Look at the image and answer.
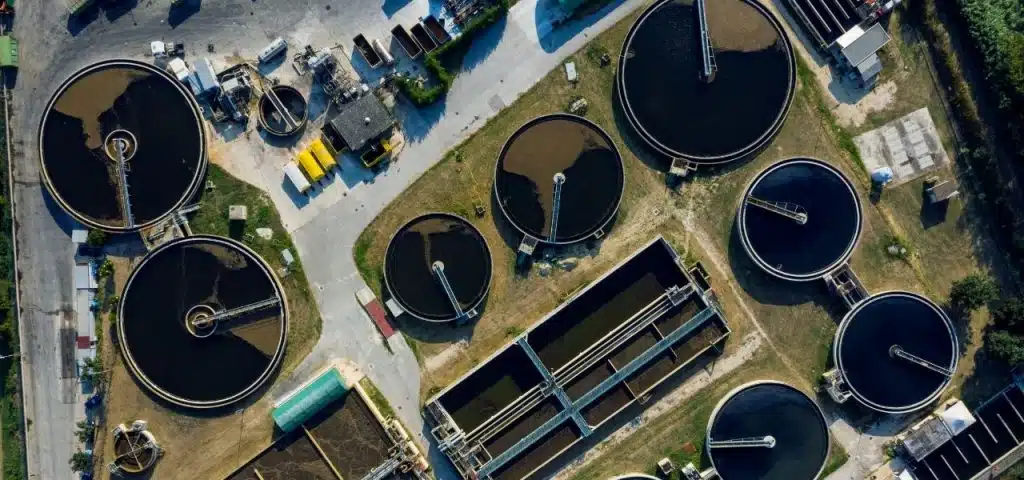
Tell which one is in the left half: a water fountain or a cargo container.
cargo container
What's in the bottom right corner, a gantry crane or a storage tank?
storage tank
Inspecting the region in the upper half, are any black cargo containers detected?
Yes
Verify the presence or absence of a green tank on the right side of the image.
No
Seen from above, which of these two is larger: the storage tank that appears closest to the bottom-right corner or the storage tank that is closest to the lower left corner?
the storage tank that appears closest to the bottom-right corner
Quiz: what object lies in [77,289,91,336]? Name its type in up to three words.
shed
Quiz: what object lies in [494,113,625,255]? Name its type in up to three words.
storage tank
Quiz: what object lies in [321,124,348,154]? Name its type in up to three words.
shipping container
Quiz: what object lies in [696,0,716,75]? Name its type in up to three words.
bridge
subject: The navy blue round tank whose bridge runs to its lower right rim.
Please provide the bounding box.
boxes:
[818,289,959,415]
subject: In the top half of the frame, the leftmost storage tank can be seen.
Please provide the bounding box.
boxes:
[37,60,211,231]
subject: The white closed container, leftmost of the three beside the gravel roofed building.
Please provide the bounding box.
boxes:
[284,160,313,196]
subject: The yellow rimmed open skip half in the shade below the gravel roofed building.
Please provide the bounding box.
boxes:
[360,141,390,168]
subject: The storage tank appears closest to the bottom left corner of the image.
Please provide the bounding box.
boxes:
[104,419,167,477]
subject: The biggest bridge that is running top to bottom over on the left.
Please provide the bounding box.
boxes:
[116,140,134,227]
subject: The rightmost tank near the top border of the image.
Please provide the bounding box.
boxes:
[616,0,797,177]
